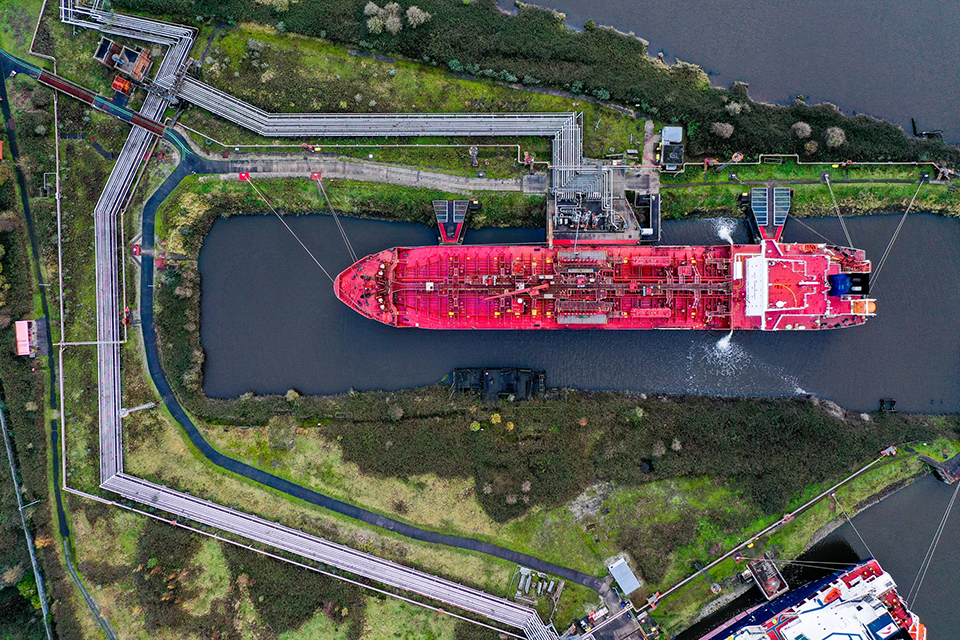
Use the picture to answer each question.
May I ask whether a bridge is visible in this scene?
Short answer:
Yes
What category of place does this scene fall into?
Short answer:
port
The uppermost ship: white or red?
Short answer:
red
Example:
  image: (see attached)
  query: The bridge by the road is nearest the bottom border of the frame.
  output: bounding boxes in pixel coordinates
[128,111,172,141]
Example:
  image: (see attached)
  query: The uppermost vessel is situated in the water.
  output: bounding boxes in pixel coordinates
[333,239,877,331]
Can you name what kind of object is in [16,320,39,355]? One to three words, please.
building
